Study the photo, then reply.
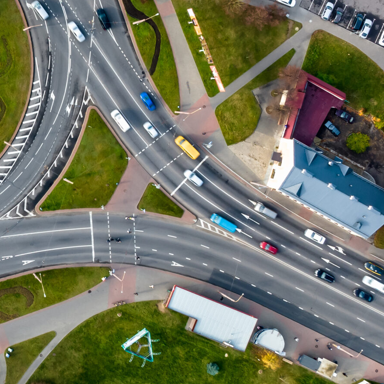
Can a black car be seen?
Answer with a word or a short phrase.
Yes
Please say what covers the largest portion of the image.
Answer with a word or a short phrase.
paved ground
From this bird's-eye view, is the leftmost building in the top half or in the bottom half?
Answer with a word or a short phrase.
bottom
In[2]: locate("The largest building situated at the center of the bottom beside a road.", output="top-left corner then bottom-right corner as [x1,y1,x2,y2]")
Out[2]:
[164,284,258,353]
